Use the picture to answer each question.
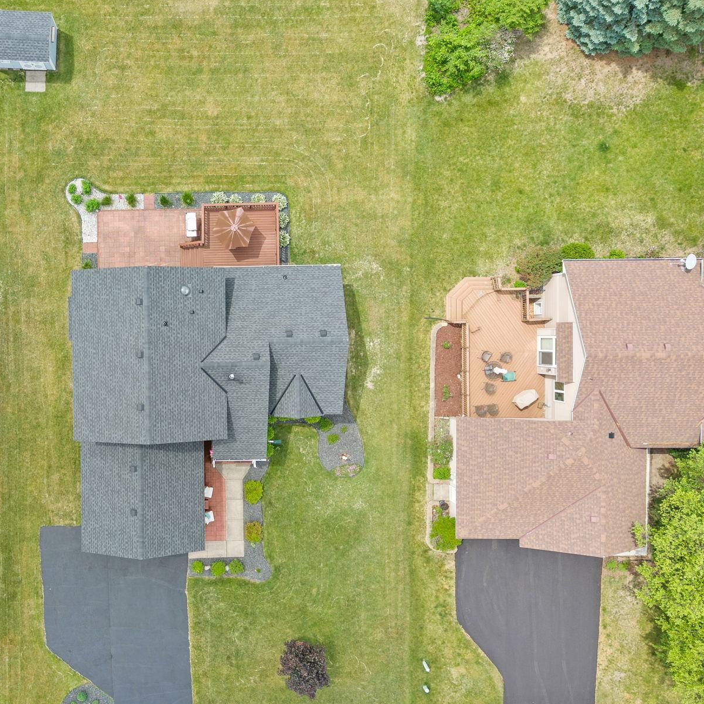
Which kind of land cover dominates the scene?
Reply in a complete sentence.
Most of the picture is covered by grass.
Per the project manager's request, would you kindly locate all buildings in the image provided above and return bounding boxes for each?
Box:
[0,9,57,69]
[450,254,704,558]
[68,264,348,559]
